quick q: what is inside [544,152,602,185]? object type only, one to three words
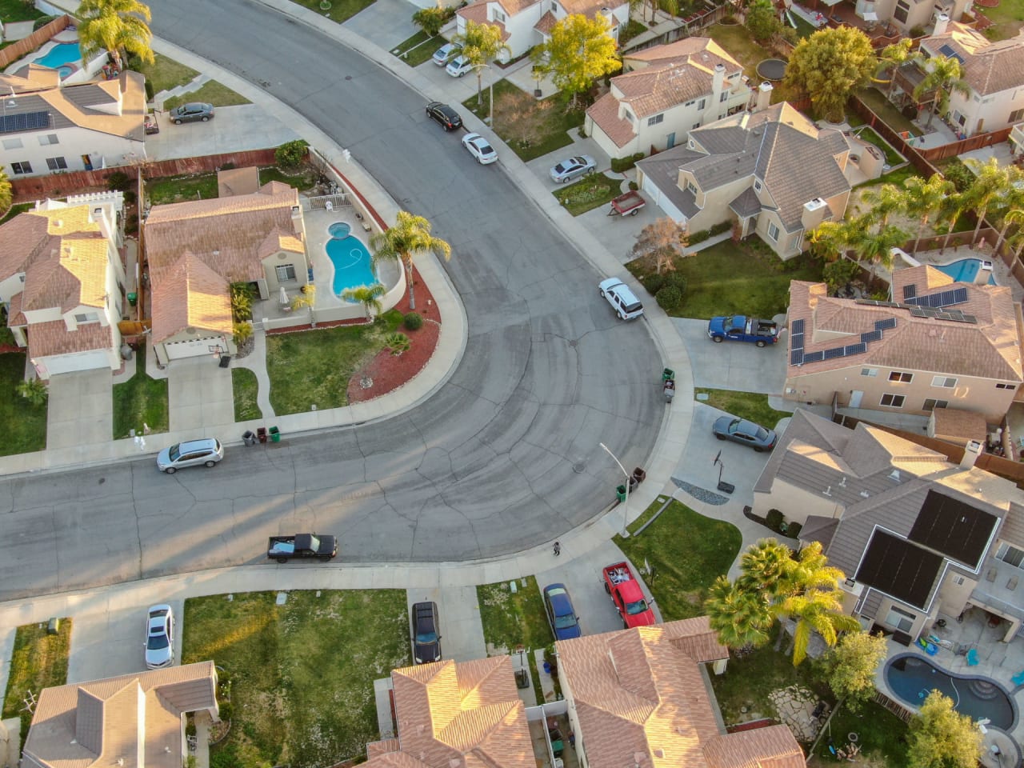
car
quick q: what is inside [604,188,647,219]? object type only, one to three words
trailer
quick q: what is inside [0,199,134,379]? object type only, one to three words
house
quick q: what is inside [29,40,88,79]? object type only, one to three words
swimming pool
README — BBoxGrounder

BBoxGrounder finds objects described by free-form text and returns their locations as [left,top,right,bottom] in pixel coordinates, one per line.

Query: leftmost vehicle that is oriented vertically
[140,598,177,671]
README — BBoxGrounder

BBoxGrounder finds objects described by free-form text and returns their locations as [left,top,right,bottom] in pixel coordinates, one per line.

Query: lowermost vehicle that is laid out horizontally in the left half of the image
[262,529,342,564]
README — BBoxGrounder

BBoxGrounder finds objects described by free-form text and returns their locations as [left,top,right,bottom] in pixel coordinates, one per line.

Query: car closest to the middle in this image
[596,273,649,325]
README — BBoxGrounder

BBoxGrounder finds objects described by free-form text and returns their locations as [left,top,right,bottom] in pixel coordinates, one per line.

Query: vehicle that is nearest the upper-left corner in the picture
[165,99,220,126]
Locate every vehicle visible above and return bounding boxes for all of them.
[458,130,503,169]
[158,434,226,473]
[140,598,177,671]
[542,575,582,642]
[706,414,781,453]
[601,555,657,629]
[440,52,479,81]
[544,152,602,185]
[165,99,220,126]
[262,529,342,564]
[422,99,468,135]
[707,314,781,344]
[427,38,469,69]
[409,595,444,666]
[596,273,649,325]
